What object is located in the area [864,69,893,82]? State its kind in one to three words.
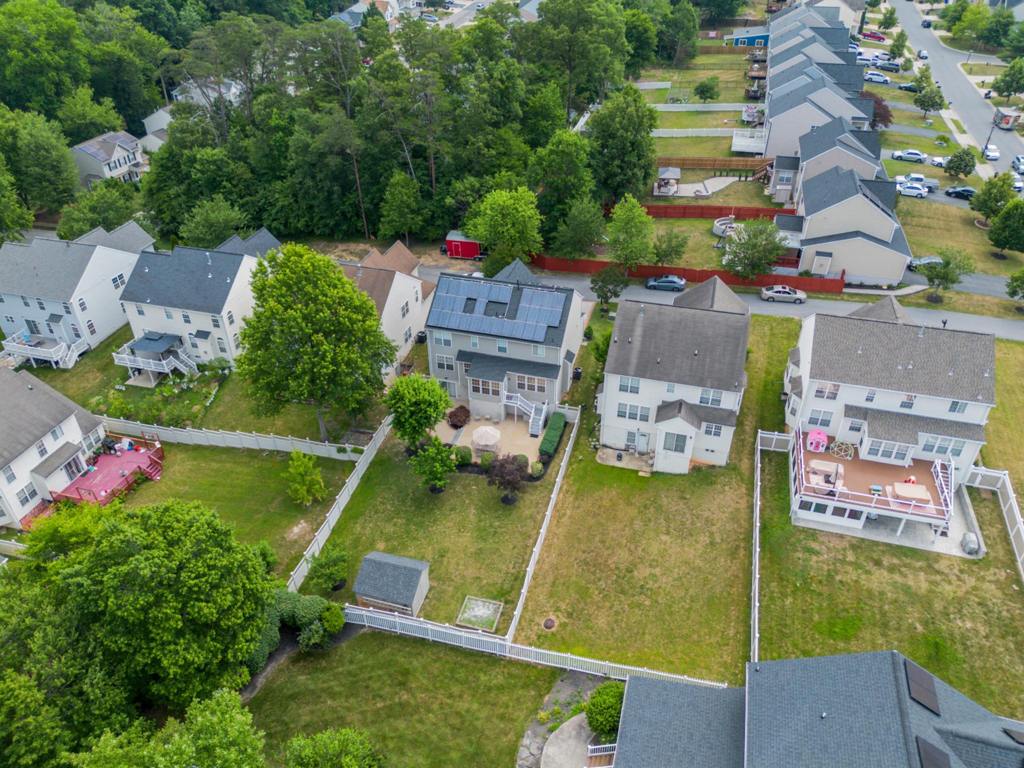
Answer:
vehicle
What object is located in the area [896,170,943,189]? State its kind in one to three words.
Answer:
vehicle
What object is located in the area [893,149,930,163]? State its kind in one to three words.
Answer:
car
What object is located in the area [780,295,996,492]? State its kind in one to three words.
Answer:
house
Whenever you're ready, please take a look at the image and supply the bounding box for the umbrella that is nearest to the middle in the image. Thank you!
[469,420,503,444]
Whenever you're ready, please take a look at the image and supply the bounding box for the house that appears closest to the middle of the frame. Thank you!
[425,258,581,424]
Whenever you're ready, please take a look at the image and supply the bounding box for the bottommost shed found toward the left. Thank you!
[353,549,429,616]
